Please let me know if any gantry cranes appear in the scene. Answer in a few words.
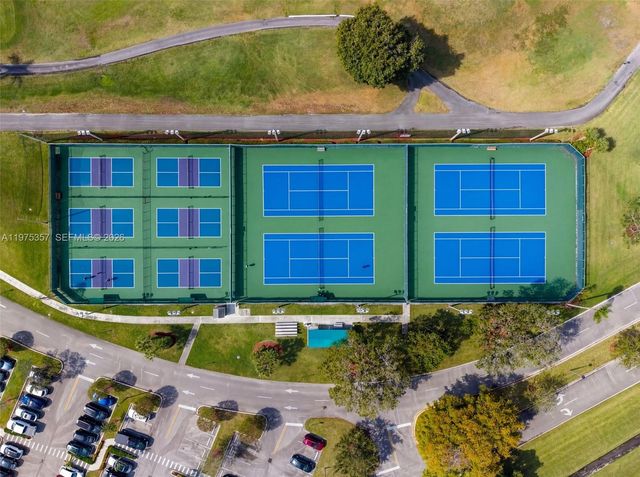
No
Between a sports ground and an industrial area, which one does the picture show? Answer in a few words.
sports ground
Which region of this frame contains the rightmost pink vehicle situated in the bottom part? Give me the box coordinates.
[304,433,325,449]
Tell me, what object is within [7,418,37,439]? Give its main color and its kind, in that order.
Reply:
white vehicle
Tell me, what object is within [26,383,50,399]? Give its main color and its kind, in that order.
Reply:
white car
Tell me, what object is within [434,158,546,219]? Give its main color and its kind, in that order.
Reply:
blue tennis court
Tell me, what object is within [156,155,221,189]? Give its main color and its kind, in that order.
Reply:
blue sports court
